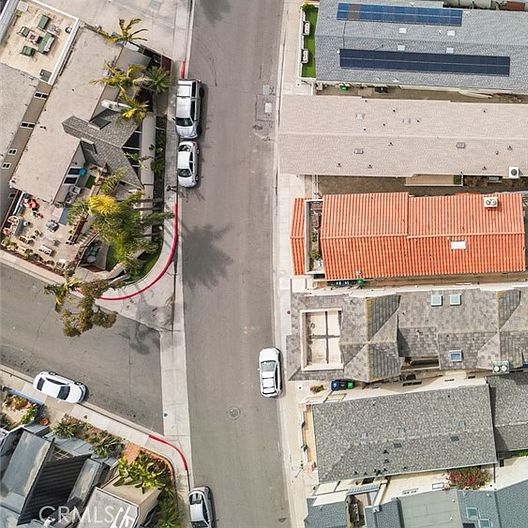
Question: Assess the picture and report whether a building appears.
Yes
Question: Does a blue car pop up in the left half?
No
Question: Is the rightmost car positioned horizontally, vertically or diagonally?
vertically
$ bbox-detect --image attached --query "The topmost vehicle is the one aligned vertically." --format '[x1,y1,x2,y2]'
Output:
[176,78,204,139]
